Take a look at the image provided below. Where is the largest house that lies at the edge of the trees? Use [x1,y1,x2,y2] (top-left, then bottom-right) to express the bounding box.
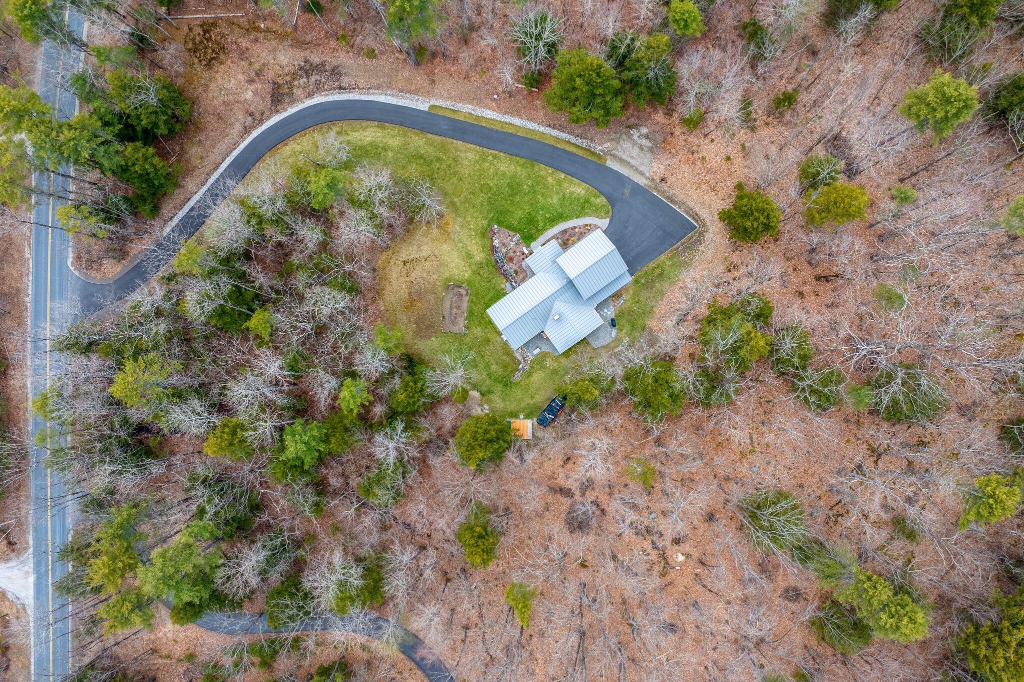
[487,228,632,353]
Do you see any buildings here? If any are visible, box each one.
[508,419,532,440]
[487,228,632,353]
